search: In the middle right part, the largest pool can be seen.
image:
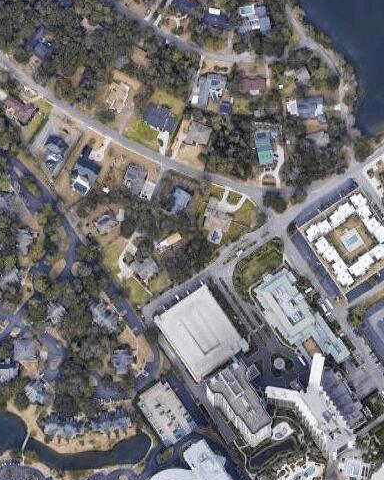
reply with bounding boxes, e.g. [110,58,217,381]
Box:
[340,226,364,252]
